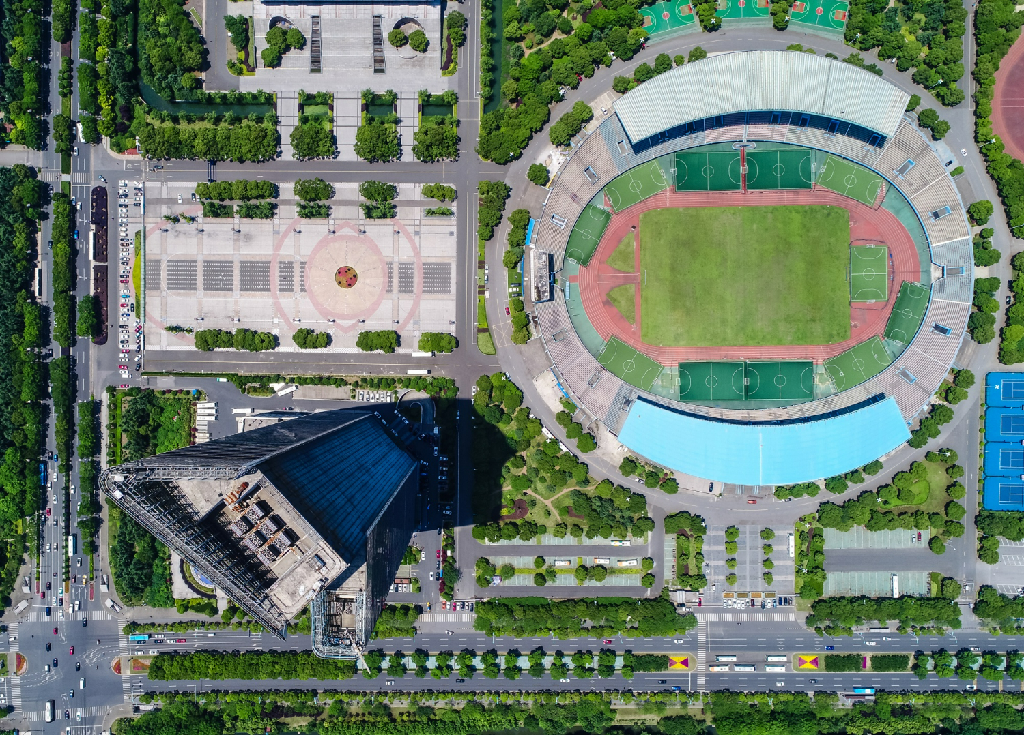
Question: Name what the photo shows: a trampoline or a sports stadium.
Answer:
sports stadium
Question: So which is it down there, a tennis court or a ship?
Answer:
tennis court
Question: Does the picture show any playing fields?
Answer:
Yes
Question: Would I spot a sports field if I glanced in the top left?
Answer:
No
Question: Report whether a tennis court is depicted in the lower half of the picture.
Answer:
Yes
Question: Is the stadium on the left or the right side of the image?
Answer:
right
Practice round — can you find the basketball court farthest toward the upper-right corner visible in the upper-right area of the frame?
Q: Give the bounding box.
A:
[790,0,848,29]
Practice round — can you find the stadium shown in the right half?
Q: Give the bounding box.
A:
[534,49,976,486]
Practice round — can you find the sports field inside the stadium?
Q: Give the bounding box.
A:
[640,206,851,347]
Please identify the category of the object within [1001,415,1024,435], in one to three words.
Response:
tennis court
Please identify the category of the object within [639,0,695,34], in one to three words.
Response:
basketball court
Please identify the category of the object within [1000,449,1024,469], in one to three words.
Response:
tennis court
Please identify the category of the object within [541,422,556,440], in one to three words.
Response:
vehicle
